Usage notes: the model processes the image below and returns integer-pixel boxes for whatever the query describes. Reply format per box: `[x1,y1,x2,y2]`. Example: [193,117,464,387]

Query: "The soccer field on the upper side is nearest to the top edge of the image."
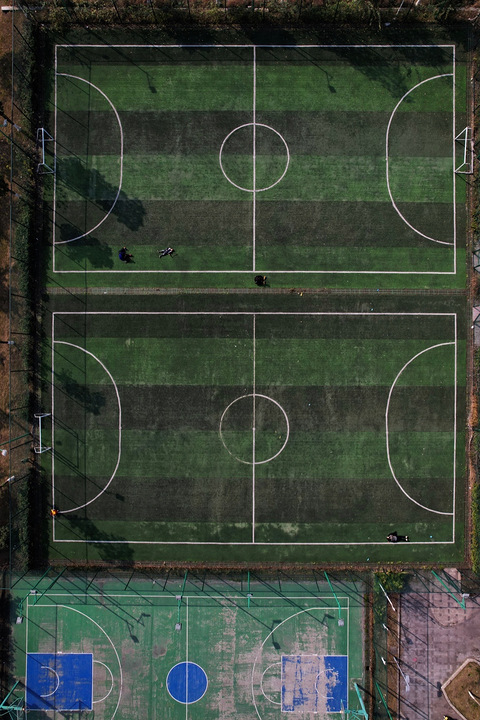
[41,27,466,288]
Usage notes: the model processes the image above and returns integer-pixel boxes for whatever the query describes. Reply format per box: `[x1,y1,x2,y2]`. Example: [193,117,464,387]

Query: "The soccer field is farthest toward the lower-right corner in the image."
[41,294,466,561]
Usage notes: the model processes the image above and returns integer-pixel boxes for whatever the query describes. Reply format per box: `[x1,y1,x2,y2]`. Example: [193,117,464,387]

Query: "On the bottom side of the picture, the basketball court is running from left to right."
[9,577,364,720]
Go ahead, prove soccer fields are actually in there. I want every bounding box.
[41,294,466,561]
[41,27,466,288]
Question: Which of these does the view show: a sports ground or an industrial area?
sports ground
